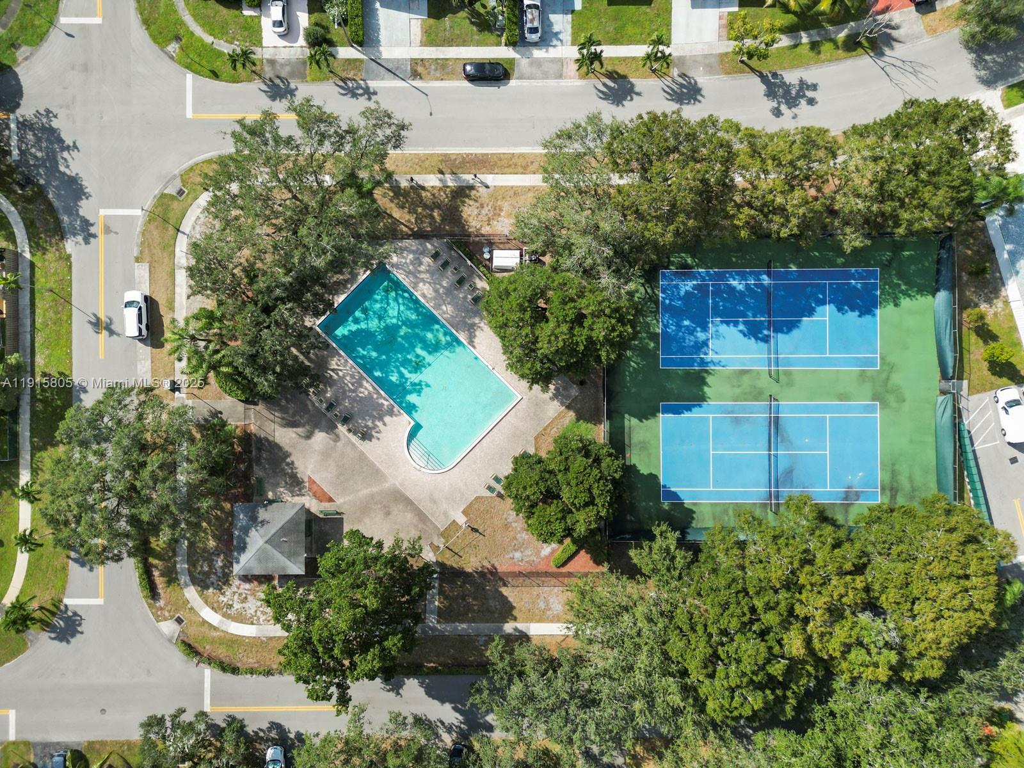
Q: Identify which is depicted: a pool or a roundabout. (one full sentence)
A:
I can see a pool in this picture.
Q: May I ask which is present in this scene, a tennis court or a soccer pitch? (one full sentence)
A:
This aerial view contains a tennis court.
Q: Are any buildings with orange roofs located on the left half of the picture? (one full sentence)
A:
No, there's no building with an orange roof to be seen on the left half of the picture.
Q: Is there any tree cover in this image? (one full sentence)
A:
Yes, tree cover can be seen from above here.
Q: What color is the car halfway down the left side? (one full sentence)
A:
From above, the car halfway down the left side appears white.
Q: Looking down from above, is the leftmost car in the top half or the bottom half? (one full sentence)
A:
You can find the leftmost car in the bottom half.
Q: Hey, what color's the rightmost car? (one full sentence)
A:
In this view, the rightmost car is white.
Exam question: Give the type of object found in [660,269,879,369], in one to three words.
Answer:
tennis court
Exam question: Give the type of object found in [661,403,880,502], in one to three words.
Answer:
tennis court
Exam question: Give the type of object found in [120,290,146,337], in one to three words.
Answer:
car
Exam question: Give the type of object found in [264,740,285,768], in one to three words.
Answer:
car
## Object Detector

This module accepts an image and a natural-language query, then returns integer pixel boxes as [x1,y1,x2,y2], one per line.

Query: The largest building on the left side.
[233,501,310,575]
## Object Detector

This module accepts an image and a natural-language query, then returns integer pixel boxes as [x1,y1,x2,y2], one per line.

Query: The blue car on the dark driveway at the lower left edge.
[52,744,77,768]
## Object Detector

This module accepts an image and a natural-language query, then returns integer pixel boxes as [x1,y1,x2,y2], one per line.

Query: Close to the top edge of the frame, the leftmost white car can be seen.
[267,0,289,37]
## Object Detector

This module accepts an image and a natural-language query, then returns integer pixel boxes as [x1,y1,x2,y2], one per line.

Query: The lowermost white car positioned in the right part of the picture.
[993,388,1024,445]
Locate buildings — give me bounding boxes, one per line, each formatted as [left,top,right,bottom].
[233,501,310,575]
[979,208,1024,367]
[495,254,523,277]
